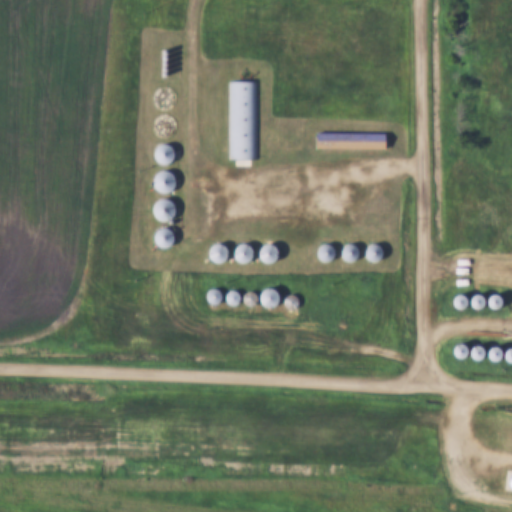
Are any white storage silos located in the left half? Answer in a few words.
Yes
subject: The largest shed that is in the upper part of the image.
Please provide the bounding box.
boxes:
[229,81,255,168]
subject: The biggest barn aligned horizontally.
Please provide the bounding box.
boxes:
[316,132,388,150]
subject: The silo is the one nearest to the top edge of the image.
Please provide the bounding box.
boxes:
[154,144,176,166]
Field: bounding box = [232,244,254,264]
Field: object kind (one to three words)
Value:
silo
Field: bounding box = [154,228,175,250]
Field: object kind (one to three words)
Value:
silo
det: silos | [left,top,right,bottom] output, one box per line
[488,294,504,311]
[260,288,280,309]
[152,199,176,223]
[206,289,223,306]
[453,294,470,311]
[152,170,176,194]
[284,294,300,310]
[232,244,254,264]
[317,244,336,263]
[470,294,487,311]
[226,290,242,306]
[259,240,280,265]
[488,347,504,363]
[470,346,487,362]
[154,228,175,250]
[154,144,176,166]
[243,292,258,308]
[453,344,470,360]
[341,244,360,263]
[206,244,229,264]
[365,244,384,263]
